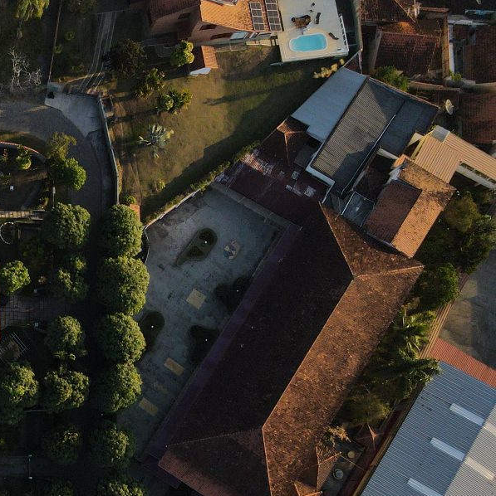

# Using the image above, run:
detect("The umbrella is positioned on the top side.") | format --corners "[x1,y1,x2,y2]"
[299,9,316,23]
